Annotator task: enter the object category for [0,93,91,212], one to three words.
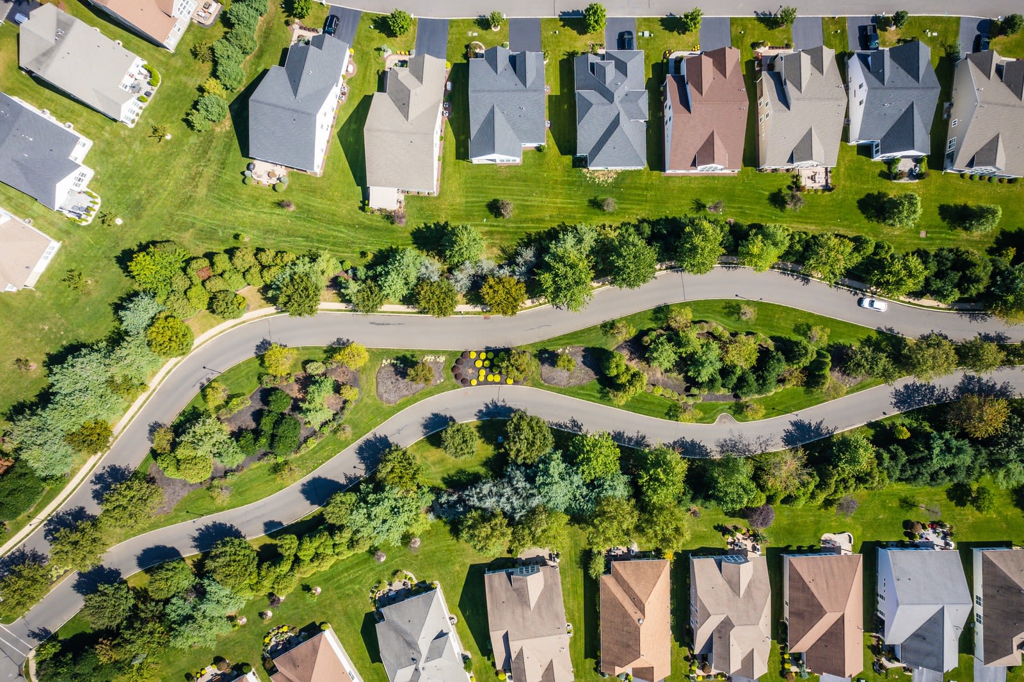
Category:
house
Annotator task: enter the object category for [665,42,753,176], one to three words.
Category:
house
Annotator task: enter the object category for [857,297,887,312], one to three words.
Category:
car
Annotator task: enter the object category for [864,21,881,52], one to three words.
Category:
vehicle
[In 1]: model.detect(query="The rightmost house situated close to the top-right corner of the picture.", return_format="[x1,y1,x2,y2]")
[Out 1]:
[943,45,1024,179]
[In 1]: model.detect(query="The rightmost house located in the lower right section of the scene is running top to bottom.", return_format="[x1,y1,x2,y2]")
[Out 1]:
[971,548,1024,667]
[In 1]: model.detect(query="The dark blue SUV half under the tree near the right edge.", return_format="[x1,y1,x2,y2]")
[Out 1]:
[976,31,992,48]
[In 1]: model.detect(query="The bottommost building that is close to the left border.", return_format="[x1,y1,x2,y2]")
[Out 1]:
[0,208,62,293]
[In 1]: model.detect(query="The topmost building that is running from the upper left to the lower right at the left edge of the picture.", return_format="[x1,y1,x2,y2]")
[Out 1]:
[13,3,143,124]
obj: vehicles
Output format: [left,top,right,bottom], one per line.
[864,21,881,52]
[620,28,633,51]
[322,10,339,38]
[857,297,887,312]
[976,31,992,48]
